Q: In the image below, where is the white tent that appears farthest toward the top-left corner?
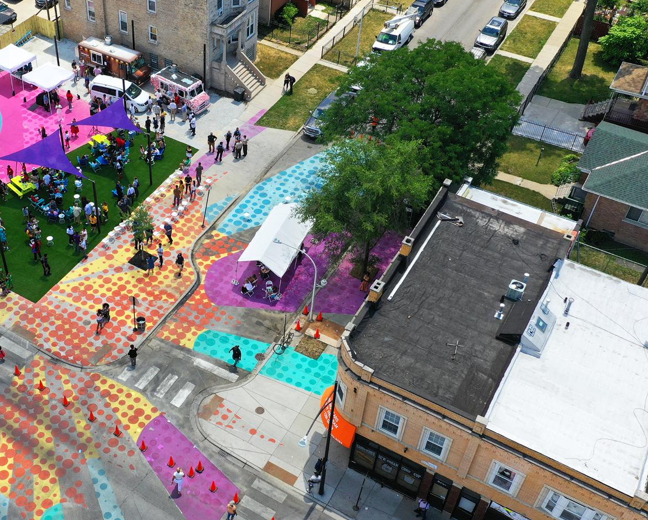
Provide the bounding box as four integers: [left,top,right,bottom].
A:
[0,47,36,93]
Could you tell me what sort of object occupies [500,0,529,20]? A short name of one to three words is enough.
car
